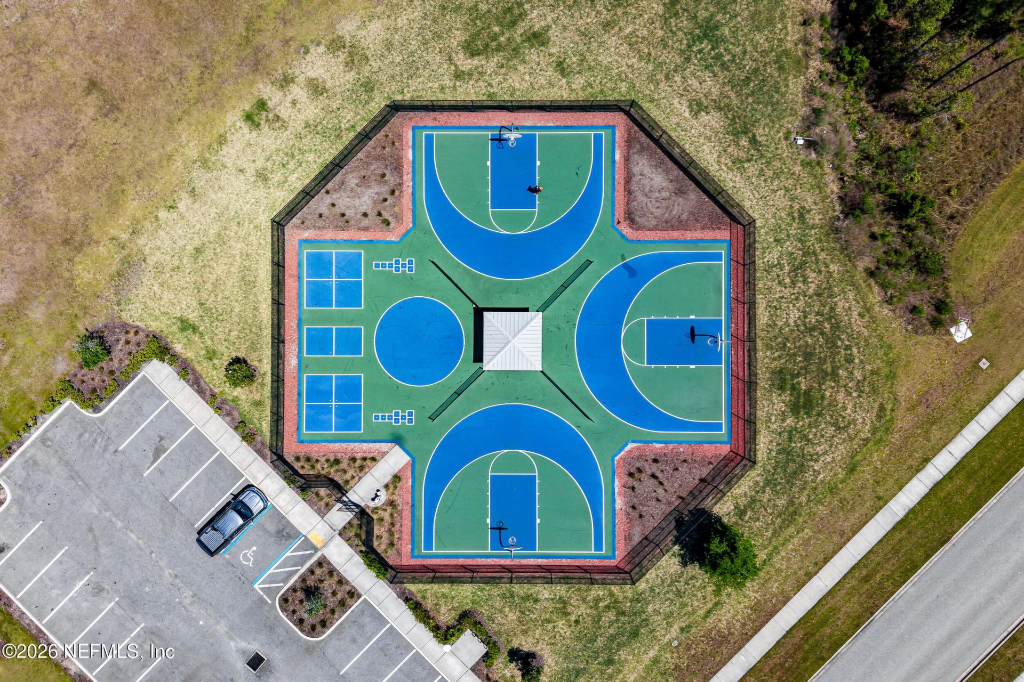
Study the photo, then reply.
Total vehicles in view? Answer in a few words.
1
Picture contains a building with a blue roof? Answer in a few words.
No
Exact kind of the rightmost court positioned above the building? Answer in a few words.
basketball court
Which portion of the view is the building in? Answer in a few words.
center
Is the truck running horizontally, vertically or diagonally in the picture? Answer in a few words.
diagonally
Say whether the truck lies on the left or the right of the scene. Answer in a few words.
left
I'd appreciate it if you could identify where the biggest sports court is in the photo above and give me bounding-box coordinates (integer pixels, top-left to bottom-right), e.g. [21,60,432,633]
[298,125,731,559]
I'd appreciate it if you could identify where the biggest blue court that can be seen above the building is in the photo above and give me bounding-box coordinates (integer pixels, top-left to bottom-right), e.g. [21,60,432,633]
[423,132,604,279]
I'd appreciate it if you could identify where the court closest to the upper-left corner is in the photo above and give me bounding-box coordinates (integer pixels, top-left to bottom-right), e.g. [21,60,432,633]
[304,250,363,308]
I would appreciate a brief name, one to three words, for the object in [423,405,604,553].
basketball court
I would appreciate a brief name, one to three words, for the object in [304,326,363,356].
sports court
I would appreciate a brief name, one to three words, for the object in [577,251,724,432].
basketball court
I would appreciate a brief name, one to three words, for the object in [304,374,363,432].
sports court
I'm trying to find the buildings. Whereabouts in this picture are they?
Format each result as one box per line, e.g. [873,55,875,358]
[483,311,543,371]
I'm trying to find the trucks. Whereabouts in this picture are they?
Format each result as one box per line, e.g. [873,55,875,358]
[195,489,268,558]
